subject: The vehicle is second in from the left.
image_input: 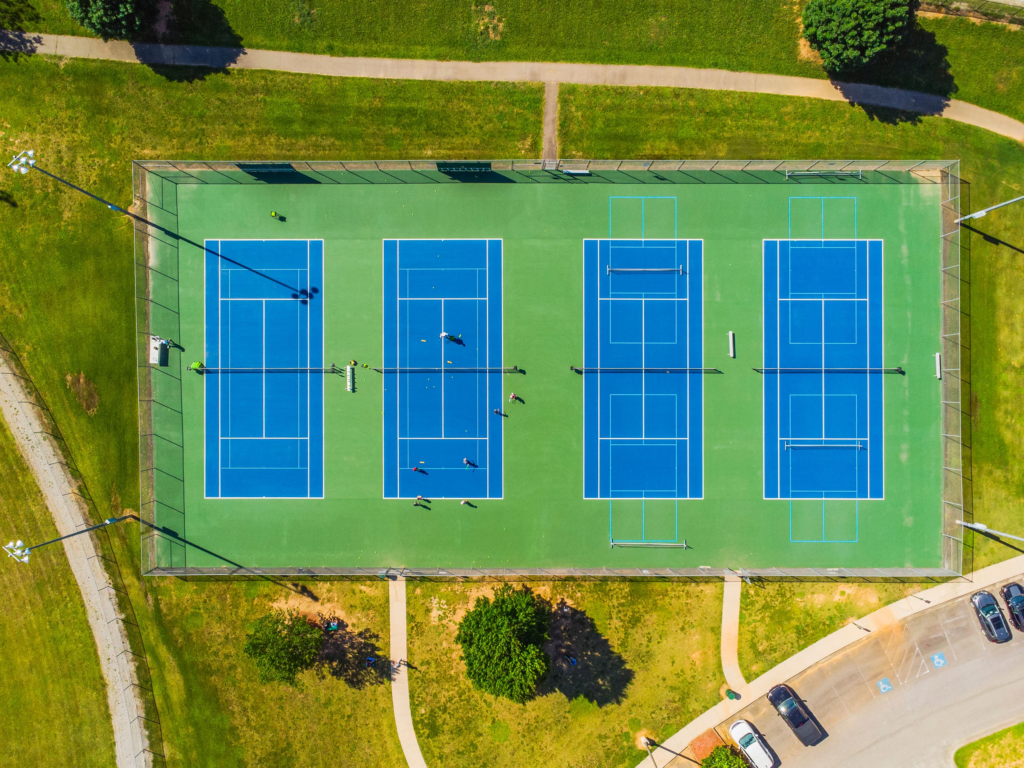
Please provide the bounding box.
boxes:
[766,682,822,747]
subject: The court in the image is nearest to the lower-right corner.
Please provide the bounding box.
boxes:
[790,395,858,542]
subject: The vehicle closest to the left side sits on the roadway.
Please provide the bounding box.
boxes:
[729,721,773,768]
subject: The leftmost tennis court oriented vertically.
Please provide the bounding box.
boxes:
[205,239,324,499]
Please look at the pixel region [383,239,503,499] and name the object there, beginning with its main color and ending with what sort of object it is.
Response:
blue tennis court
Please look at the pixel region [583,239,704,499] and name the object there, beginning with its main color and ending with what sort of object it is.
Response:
blue tennis court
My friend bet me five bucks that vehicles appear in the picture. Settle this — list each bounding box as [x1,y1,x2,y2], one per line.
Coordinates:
[766,682,822,747]
[968,591,1009,645]
[1001,580,1024,633]
[729,721,773,768]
